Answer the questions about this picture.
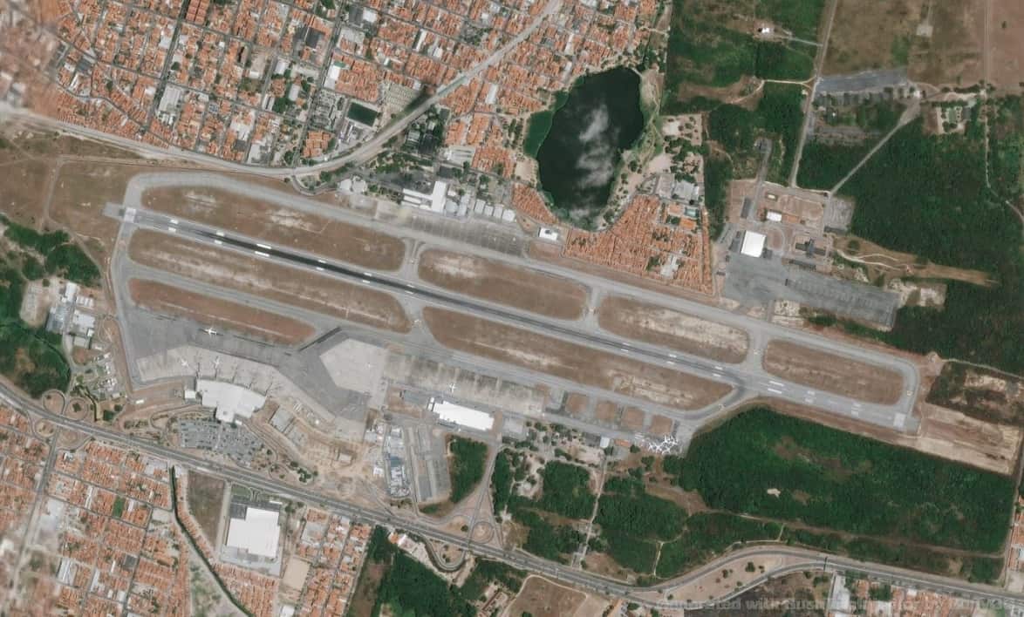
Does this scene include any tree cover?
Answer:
Yes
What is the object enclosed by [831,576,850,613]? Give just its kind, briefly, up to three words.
building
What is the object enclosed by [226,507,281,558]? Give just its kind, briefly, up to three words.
building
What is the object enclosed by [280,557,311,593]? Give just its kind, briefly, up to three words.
sports field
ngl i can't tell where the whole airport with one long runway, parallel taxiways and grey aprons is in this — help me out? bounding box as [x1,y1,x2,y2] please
[103,171,920,454]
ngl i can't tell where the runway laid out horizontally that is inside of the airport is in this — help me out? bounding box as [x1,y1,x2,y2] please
[125,208,906,428]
